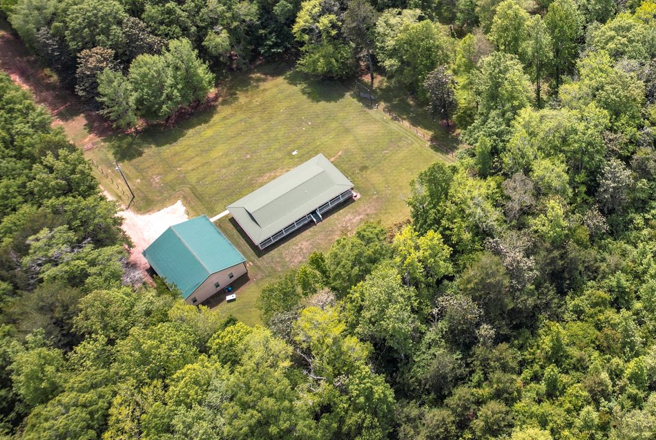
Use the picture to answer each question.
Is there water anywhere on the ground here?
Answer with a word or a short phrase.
No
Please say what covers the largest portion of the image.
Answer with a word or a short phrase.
trees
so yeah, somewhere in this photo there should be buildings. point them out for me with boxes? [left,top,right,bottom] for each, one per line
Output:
[144,215,252,310]
[226,153,354,252]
